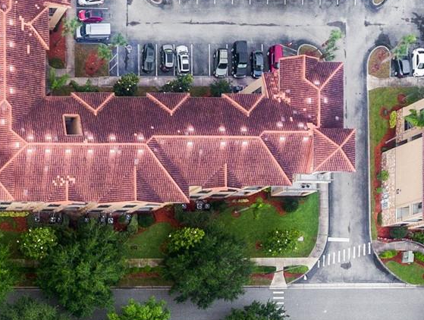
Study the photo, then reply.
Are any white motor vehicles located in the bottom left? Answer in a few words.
No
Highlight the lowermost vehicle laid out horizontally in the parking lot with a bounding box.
[76,21,113,39]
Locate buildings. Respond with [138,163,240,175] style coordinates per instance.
[0,0,355,209]
[384,114,424,224]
